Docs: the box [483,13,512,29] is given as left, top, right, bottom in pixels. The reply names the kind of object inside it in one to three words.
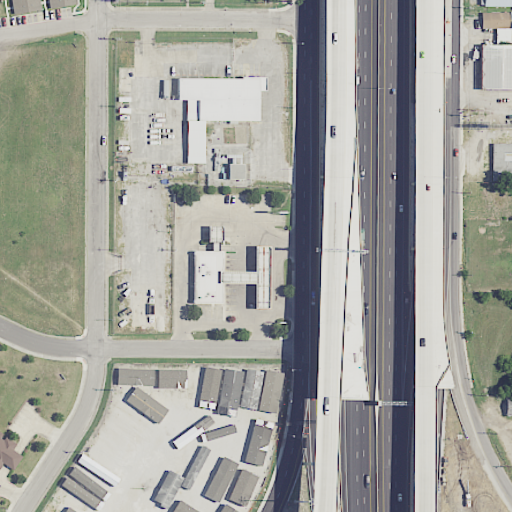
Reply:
shed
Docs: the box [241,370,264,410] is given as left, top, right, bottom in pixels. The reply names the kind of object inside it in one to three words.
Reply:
house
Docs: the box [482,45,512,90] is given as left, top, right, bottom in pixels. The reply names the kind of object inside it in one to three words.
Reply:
building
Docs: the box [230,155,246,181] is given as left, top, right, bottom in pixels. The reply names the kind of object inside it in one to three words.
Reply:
building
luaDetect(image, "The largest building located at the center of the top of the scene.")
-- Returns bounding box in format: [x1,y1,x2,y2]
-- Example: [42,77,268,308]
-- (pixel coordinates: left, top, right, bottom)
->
[178,78,267,163]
